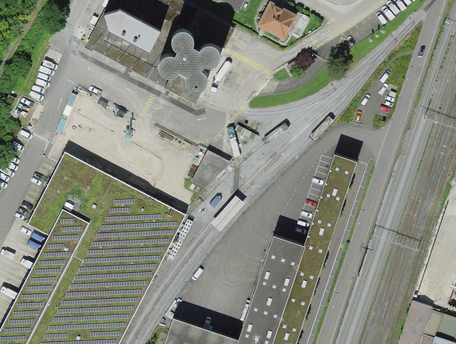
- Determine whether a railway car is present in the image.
Yes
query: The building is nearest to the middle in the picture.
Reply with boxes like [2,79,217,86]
[192,149,232,188]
